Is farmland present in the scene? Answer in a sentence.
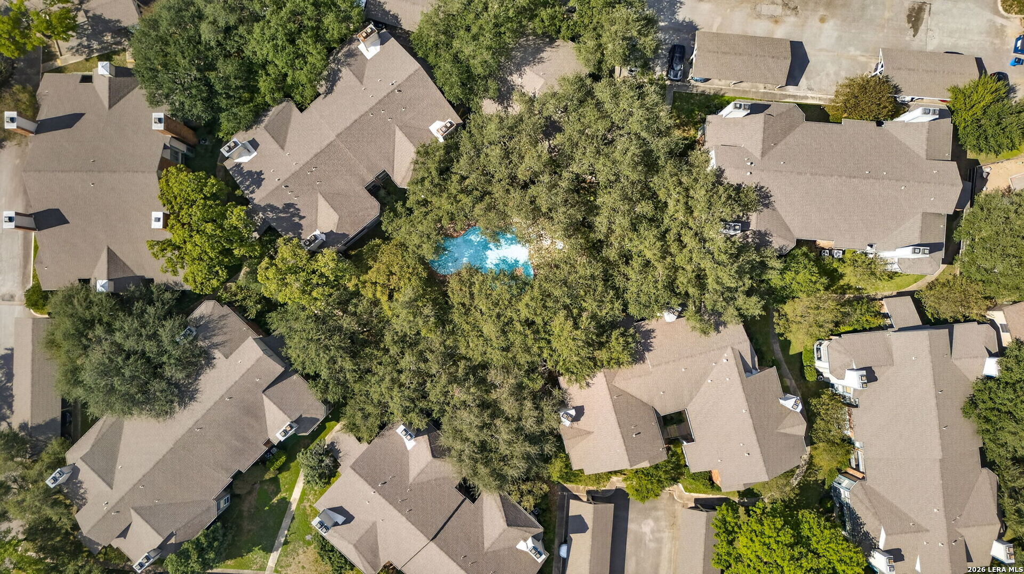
No, there is no farmland in the image.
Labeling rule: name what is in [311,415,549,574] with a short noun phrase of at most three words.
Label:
house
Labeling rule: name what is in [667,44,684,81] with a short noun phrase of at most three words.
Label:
car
